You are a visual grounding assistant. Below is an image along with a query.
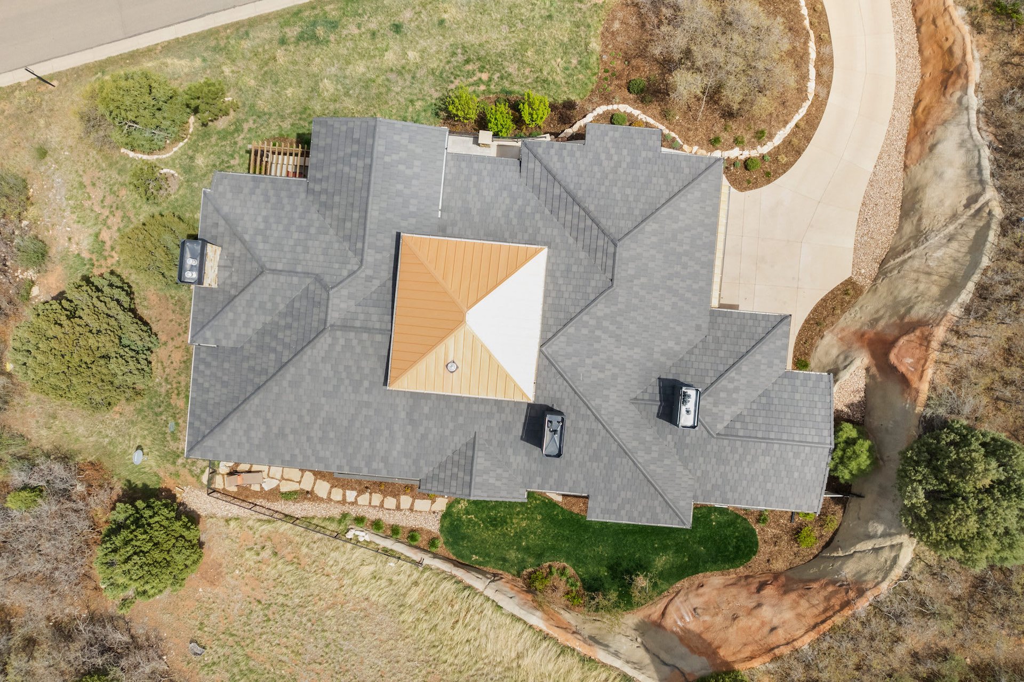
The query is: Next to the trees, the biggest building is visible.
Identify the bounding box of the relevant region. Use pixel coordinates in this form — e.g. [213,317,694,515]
[178,117,835,530]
